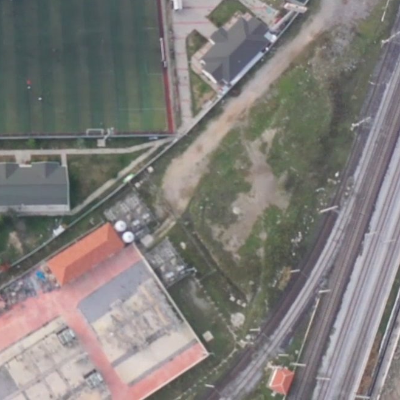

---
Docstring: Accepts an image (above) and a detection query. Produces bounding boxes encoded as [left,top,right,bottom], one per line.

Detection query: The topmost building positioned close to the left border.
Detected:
[0,162,70,214]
